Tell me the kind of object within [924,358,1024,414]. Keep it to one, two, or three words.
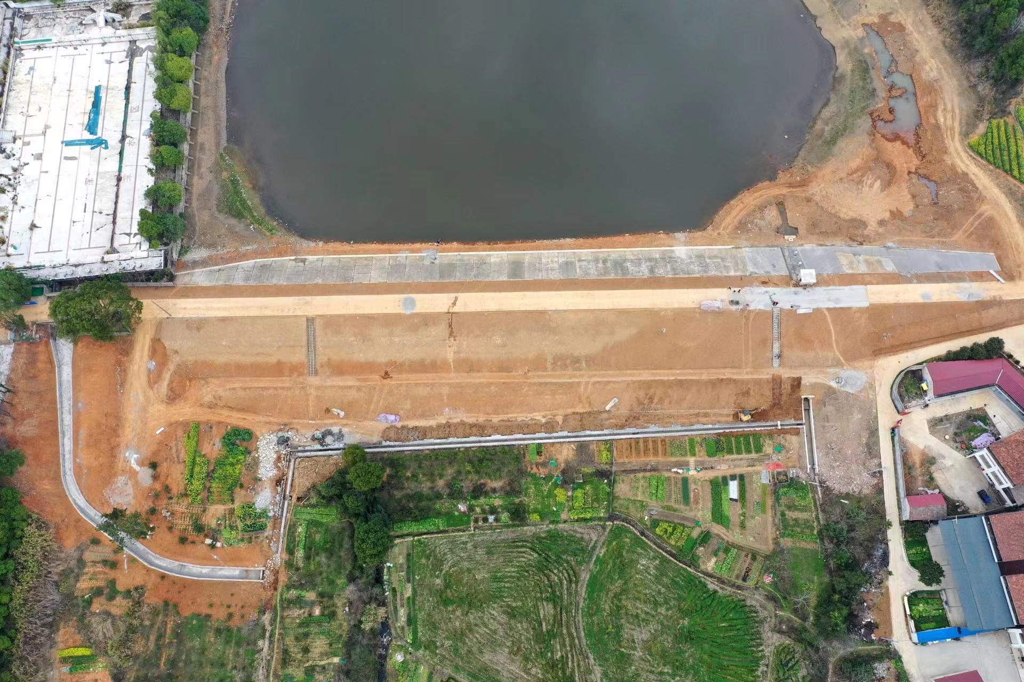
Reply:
building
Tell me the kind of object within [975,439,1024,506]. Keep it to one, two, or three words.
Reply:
house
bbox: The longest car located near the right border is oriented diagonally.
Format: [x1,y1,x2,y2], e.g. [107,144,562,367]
[977,487,994,505]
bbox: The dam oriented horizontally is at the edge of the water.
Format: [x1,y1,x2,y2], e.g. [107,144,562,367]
[134,230,1024,447]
